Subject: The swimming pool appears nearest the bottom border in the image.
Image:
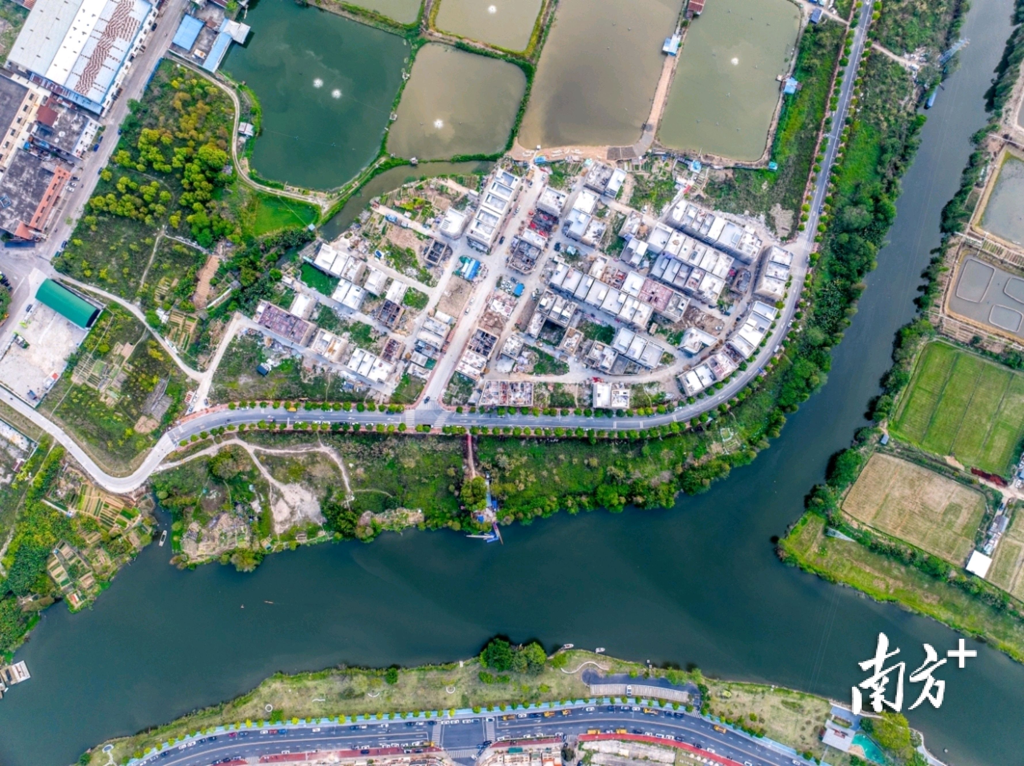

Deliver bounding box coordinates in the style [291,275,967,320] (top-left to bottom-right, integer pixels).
[851,733,885,765]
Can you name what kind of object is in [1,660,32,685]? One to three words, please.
ship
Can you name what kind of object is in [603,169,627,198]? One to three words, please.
house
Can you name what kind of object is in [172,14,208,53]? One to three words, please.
shed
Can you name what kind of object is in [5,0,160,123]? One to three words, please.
building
